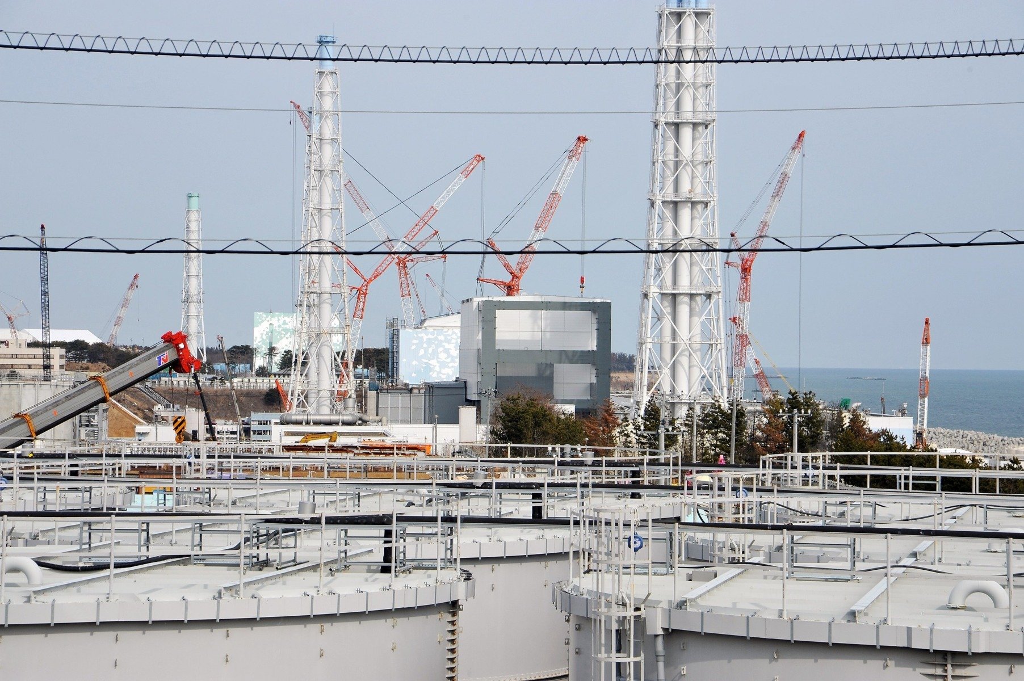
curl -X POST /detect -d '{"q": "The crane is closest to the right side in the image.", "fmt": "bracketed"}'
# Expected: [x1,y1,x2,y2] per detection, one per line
[915,318,930,452]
